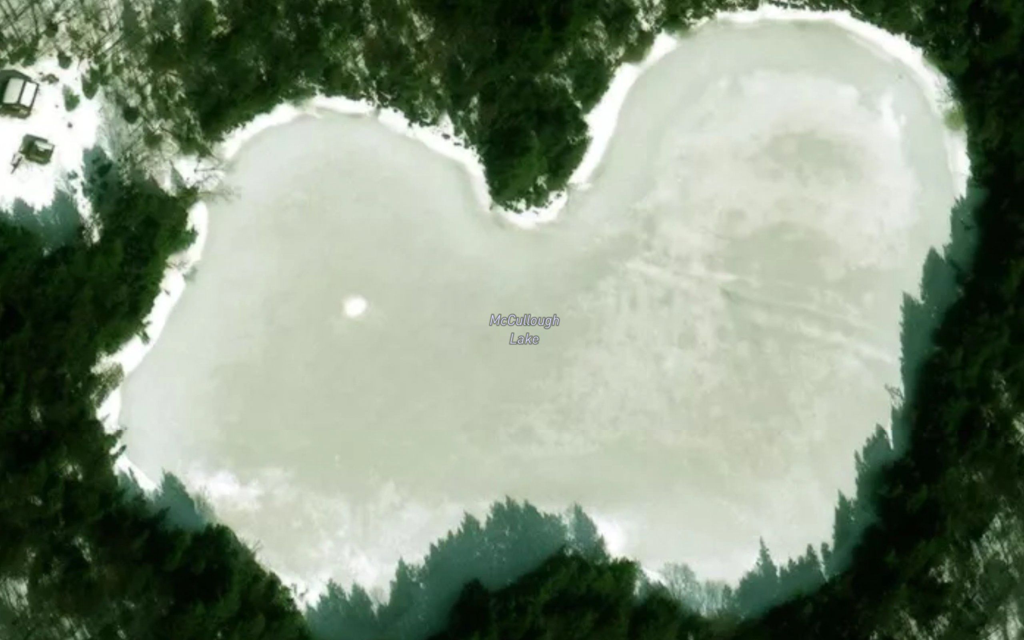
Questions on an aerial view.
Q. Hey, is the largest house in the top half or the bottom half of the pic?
top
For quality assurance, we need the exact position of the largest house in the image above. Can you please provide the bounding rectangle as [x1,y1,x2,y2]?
[2,77,38,119]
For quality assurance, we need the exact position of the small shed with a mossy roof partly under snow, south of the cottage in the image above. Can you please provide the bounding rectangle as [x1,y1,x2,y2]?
[28,140,55,163]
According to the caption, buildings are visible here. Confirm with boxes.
[28,140,55,163]
[2,77,38,119]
